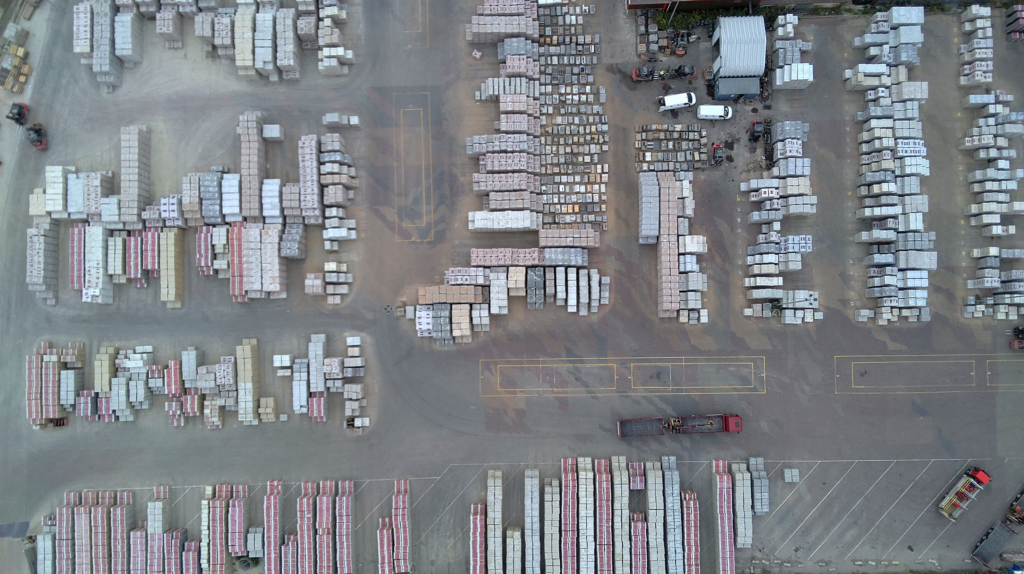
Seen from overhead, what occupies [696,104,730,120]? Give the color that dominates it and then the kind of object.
white vehicle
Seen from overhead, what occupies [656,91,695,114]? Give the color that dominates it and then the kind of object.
white vehicle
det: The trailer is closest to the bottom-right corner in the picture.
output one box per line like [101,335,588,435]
[972,521,1021,568]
